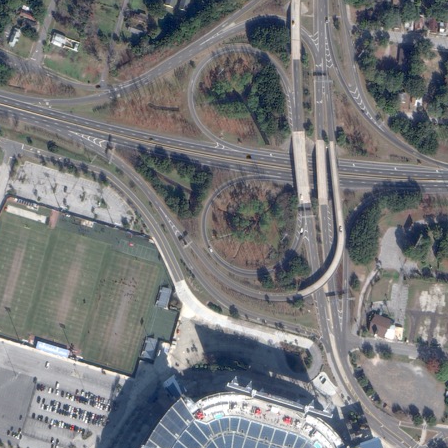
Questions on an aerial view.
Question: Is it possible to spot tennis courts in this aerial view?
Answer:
No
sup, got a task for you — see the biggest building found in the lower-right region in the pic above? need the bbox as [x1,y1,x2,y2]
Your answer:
[369,315,395,339]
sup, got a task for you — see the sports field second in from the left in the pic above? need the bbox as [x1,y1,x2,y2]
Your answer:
[26,237,102,351]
